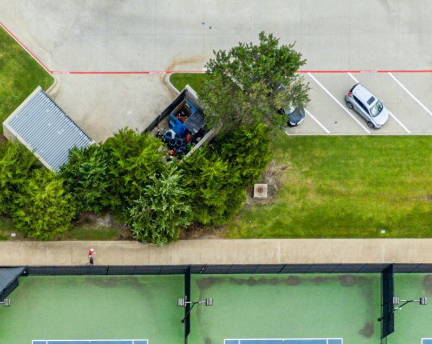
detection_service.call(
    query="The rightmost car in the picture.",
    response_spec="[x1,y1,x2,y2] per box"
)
[344,82,392,129]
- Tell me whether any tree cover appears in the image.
Yes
